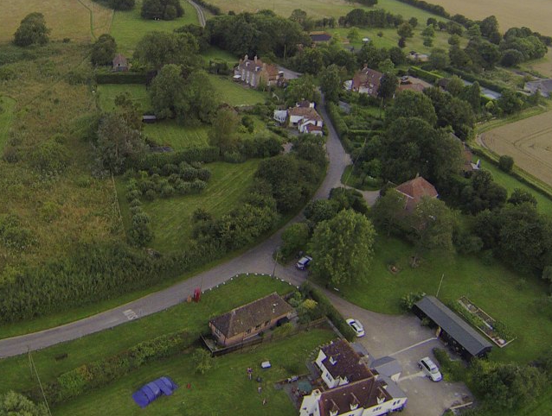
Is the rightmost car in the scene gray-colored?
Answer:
Yes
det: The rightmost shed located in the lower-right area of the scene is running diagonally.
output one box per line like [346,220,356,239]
[412,294,495,366]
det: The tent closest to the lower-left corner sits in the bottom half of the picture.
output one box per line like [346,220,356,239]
[127,378,179,410]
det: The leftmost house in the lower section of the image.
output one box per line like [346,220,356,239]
[202,290,294,350]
